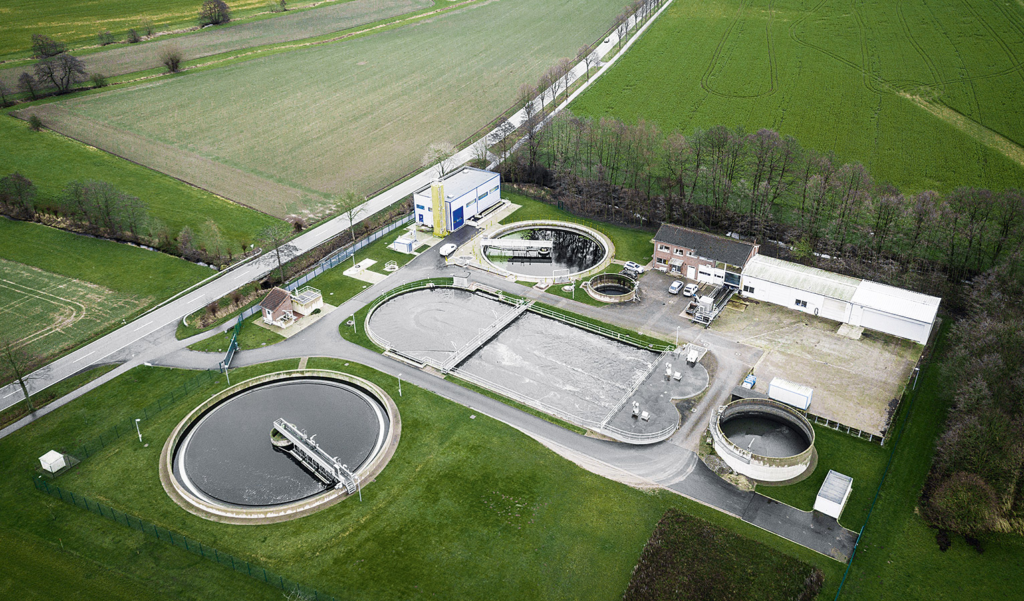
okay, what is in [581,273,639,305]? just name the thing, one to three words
storage tank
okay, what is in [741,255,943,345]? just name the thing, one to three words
building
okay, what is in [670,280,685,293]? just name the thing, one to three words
vehicle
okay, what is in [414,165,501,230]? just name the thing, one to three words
building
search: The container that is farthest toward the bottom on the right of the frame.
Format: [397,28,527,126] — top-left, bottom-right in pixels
[771,378,814,410]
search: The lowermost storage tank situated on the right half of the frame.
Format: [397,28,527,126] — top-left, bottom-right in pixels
[707,398,820,489]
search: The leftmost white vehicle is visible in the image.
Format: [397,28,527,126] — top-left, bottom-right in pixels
[438,238,461,254]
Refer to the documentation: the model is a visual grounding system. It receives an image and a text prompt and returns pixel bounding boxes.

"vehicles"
[617,266,639,279]
[621,260,644,273]
[686,283,699,295]
[670,280,685,293]
[438,238,461,254]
